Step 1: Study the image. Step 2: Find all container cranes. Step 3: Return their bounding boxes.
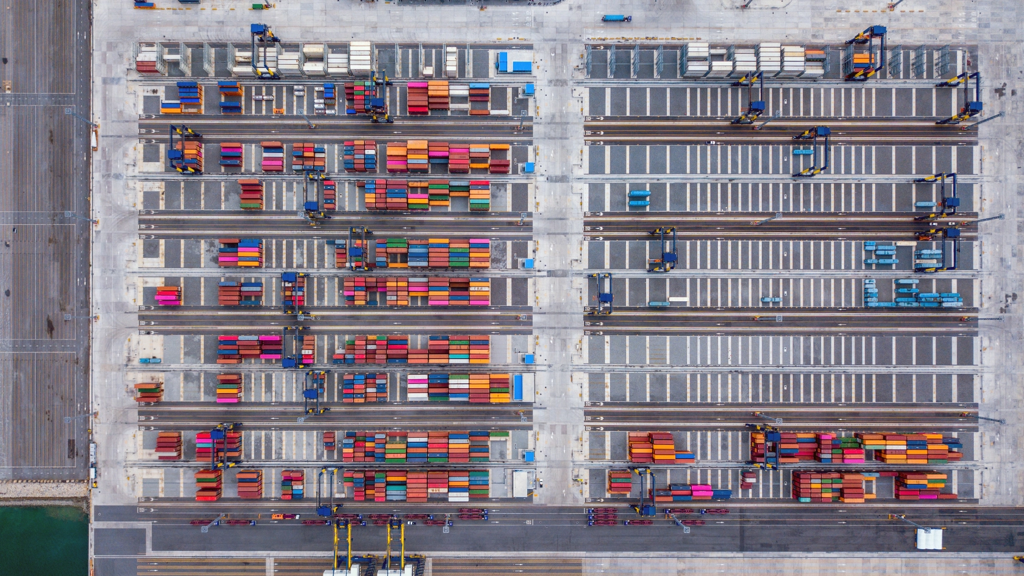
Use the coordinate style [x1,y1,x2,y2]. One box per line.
[167,126,202,177]
[731,71,766,125]
[316,465,344,516]
[845,25,887,81]
[209,422,243,471]
[915,227,960,274]
[281,270,311,315]
[348,226,374,272]
[586,271,614,316]
[302,170,331,219]
[280,326,310,371]
[647,227,678,273]
[376,521,429,576]
[627,466,658,517]
[792,126,831,178]
[936,71,983,125]
[249,24,281,80]
[369,70,395,124]
[302,369,331,415]
[322,521,382,576]
[745,424,781,472]
[915,172,960,221]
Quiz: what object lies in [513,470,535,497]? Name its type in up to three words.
shed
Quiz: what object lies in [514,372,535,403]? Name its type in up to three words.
building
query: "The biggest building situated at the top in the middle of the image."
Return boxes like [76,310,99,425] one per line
[497,52,534,73]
